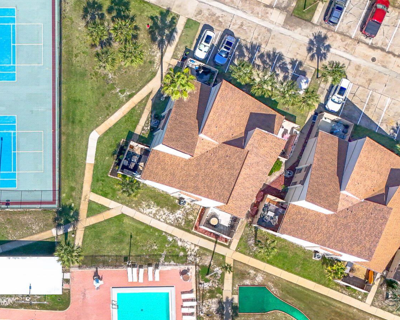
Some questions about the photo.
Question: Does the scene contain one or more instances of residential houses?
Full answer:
Yes, you can see a residential house in this photo.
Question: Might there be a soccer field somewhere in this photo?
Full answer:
No, there appears to be no soccer field in this shot.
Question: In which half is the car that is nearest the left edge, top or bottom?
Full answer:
The top half of the photo is where the car that is nearest the left edge is.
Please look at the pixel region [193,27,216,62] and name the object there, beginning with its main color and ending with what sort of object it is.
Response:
white car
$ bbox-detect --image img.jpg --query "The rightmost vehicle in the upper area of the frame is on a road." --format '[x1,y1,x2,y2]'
[360,0,389,39]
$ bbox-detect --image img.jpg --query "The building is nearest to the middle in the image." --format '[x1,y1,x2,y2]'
[115,57,302,239]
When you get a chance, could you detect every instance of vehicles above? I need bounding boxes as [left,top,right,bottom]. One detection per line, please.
[322,0,346,28]
[213,33,236,67]
[360,0,389,39]
[325,81,350,112]
[193,27,216,62]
